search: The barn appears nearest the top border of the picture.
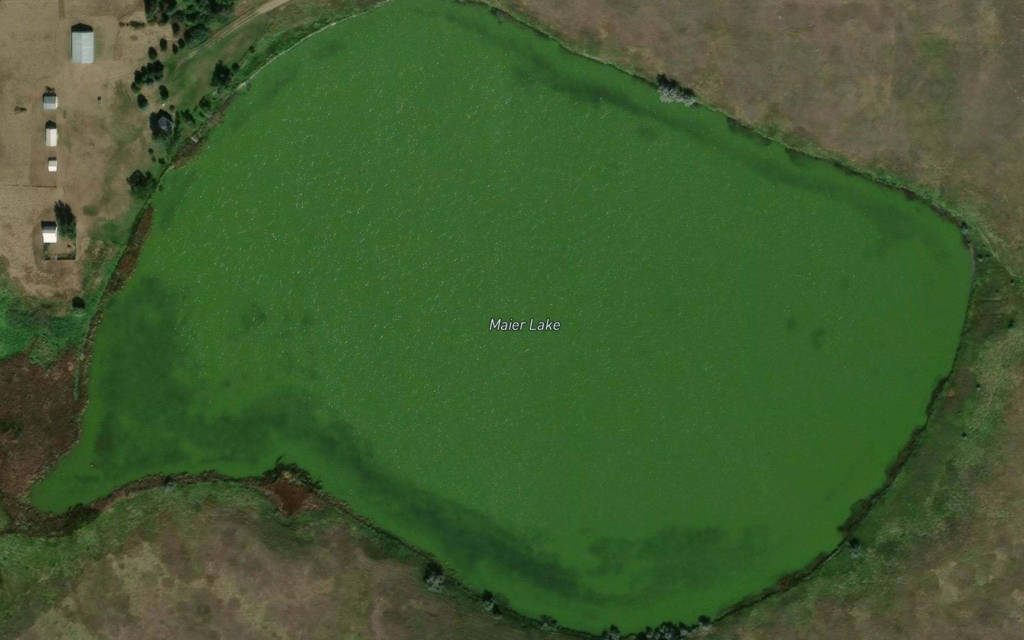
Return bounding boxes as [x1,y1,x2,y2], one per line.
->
[71,32,95,64]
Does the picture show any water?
Yes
